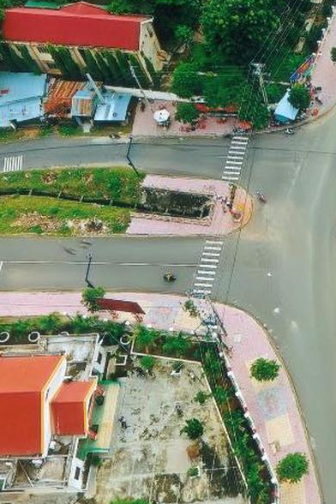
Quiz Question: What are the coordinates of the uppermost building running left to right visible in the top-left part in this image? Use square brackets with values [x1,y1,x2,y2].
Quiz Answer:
[4,0,168,83]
